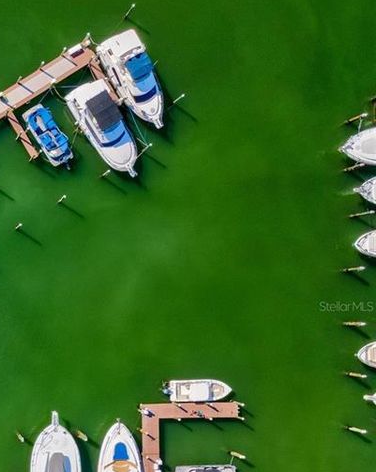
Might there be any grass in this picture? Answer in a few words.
No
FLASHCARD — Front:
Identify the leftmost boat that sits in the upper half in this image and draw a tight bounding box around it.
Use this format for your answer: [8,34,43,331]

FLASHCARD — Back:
[24,86,75,173]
